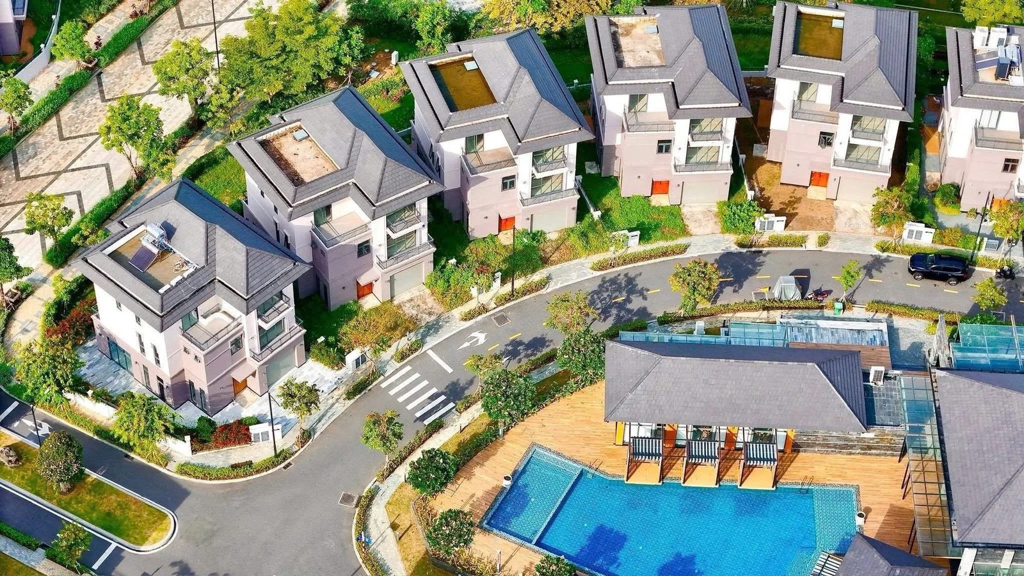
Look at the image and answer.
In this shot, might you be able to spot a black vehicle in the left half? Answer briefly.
No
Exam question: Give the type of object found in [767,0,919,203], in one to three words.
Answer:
house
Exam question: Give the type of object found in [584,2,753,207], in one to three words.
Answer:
house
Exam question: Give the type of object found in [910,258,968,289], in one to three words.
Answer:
car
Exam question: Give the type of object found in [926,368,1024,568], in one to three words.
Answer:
building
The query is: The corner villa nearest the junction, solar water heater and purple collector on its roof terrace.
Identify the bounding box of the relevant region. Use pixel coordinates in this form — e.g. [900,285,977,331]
[71,175,312,417]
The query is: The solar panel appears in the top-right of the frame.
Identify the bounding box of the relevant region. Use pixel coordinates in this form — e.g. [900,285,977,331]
[973,48,1004,73]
